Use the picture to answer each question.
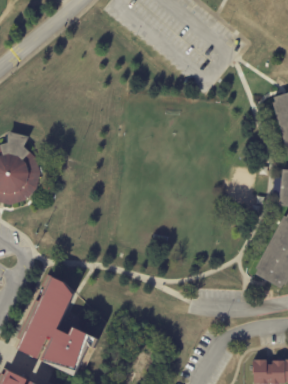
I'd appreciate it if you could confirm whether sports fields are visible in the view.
Yes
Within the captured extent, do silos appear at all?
No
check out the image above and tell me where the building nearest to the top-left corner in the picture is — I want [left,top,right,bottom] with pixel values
[0,133,39,205]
